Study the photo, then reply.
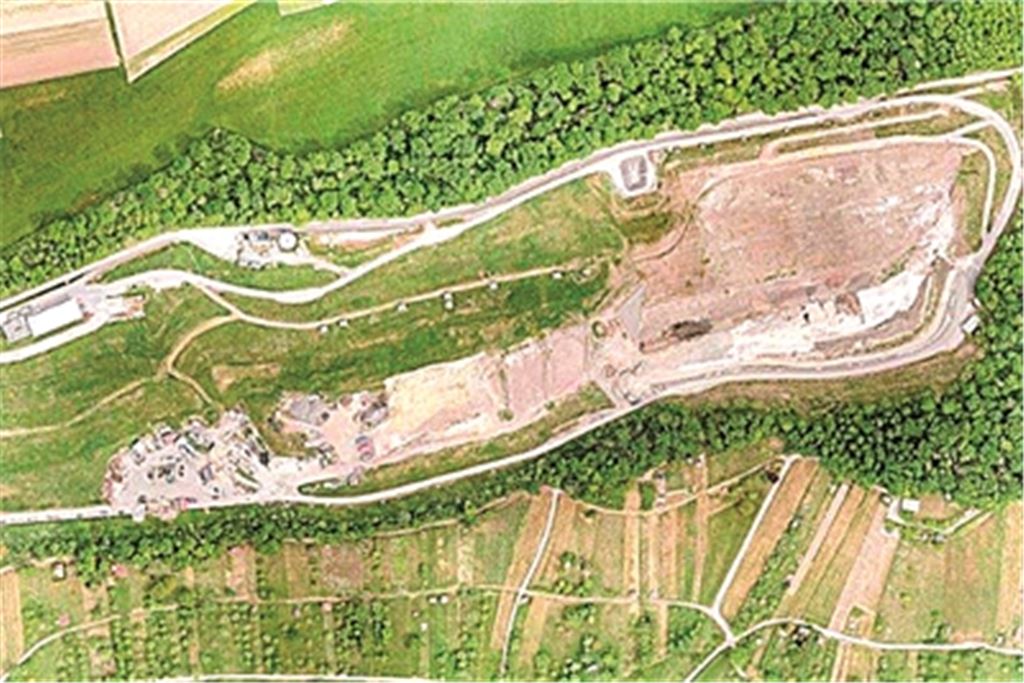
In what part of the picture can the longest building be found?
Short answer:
left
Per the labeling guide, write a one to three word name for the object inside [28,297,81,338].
building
